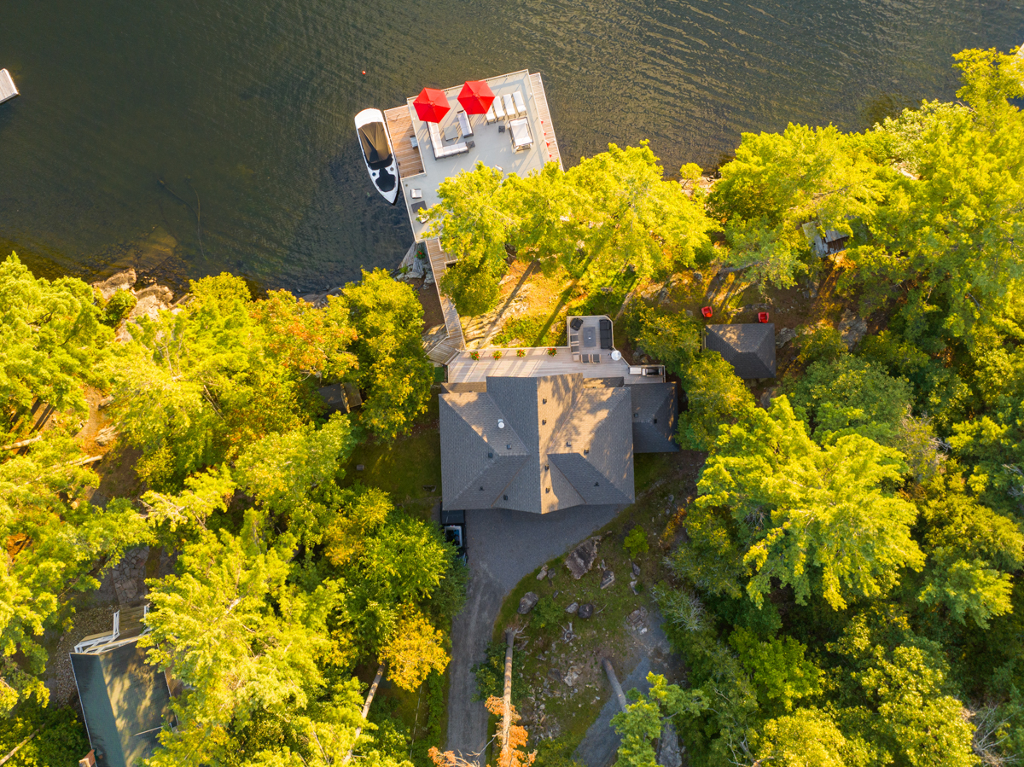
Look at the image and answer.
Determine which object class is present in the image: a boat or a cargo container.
boat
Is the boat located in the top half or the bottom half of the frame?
top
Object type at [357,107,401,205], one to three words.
boat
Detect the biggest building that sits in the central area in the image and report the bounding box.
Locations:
[438,374,635,517]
